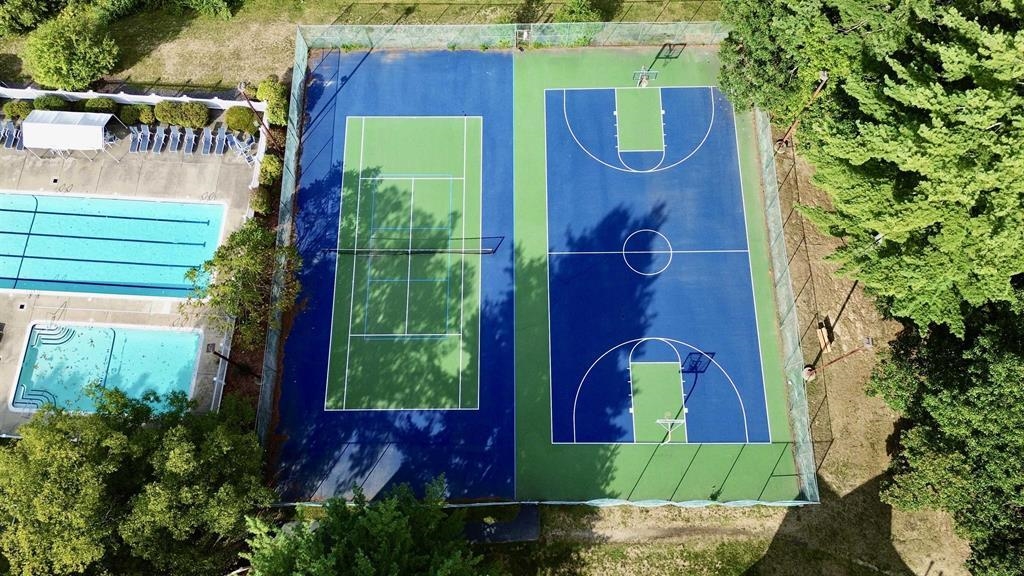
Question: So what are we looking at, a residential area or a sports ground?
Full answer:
The area seen from above is a sports ground.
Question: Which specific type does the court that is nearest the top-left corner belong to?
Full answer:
The court that is nearest the top-left corner can be classified as a tennis court.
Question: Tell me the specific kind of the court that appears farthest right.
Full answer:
Specifically, the court that appears farthest right is a basketball court.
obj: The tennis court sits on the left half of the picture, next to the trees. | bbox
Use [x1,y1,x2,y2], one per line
[271,48,515,500]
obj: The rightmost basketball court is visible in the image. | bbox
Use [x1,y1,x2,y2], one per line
[513,48,799,500]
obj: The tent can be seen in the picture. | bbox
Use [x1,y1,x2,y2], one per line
[24,111,126,162]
